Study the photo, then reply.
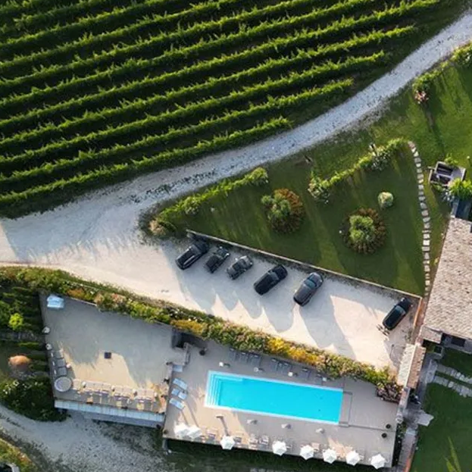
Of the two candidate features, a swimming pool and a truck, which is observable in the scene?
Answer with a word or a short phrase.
swimming pool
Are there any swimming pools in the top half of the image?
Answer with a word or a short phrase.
No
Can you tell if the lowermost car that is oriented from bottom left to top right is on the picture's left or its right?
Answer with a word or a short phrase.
right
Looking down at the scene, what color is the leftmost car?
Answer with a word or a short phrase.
black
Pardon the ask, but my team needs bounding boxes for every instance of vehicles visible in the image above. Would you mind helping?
[251,263,291,297]
[378,295,414,332]
[200,245,234,274]
[291,271,326,307]
[174,240,213,273]
[223,254,257,282]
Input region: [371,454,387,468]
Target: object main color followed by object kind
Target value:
white umbrella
